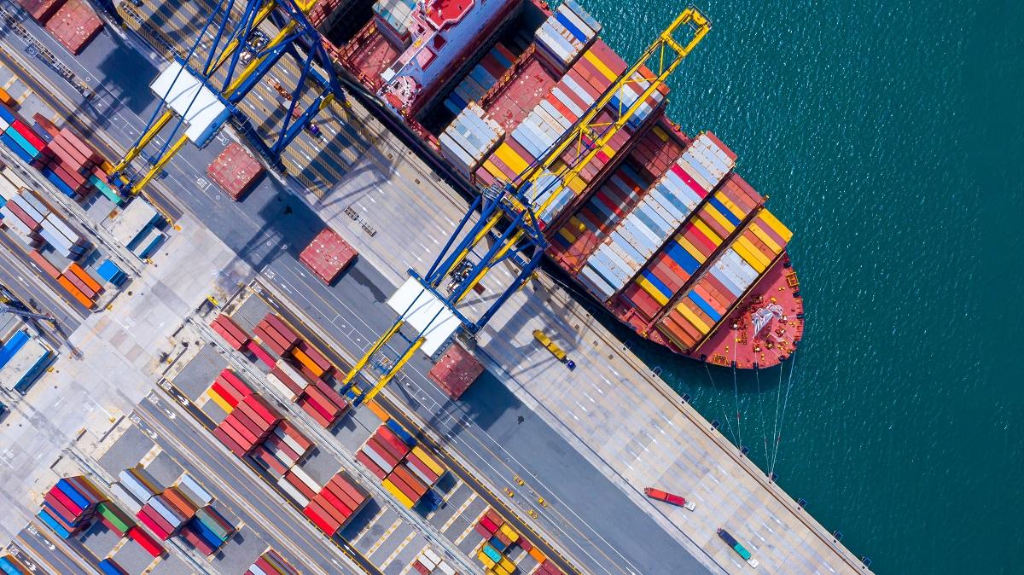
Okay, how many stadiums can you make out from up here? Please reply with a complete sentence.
No stadiums are visible.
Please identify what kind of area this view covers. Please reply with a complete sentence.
This image shows a port.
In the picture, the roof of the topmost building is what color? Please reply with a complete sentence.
The roof over the topmost building appears white.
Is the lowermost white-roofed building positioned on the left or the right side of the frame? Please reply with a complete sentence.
The lowermost white-roofed building sits on the left side.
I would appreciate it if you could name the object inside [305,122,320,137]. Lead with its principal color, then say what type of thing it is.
blue vehicle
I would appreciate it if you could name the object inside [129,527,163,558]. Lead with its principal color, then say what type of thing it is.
red shipping container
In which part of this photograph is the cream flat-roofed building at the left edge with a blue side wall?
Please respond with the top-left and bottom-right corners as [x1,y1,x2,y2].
[0,337,59,393]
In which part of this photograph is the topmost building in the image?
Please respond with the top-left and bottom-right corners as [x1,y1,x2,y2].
[109,197,172,266]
